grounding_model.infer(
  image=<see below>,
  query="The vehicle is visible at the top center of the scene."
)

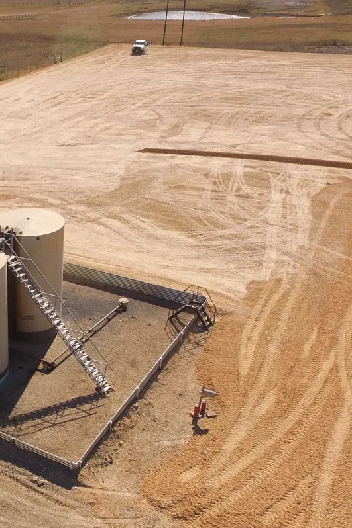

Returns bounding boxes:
[129,38,149,54]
